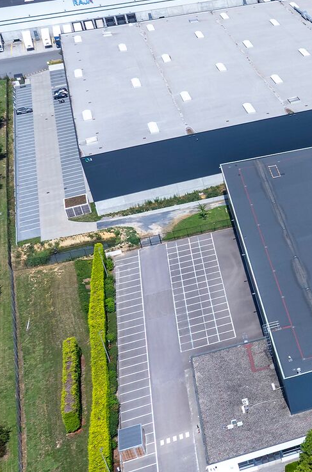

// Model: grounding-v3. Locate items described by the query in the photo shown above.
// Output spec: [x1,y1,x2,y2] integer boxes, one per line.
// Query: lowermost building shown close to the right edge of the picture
[191,337,312,472]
